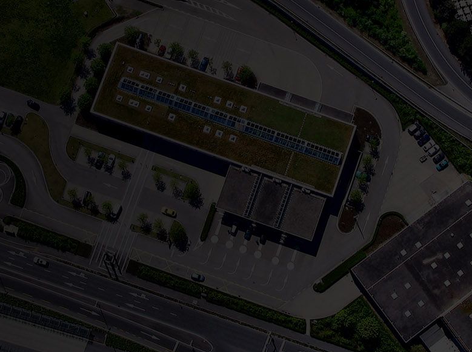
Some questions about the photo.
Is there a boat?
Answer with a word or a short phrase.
No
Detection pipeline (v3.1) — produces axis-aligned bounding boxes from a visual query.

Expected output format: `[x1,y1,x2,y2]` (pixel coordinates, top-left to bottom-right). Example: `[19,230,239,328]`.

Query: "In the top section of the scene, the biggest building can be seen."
[91,42,356,199]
